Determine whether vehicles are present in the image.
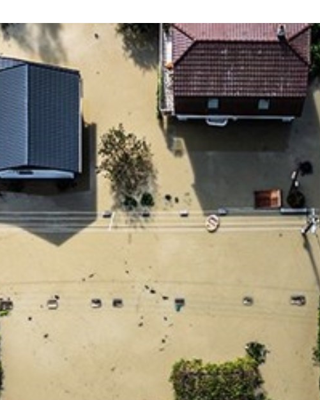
No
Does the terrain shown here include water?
Yes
